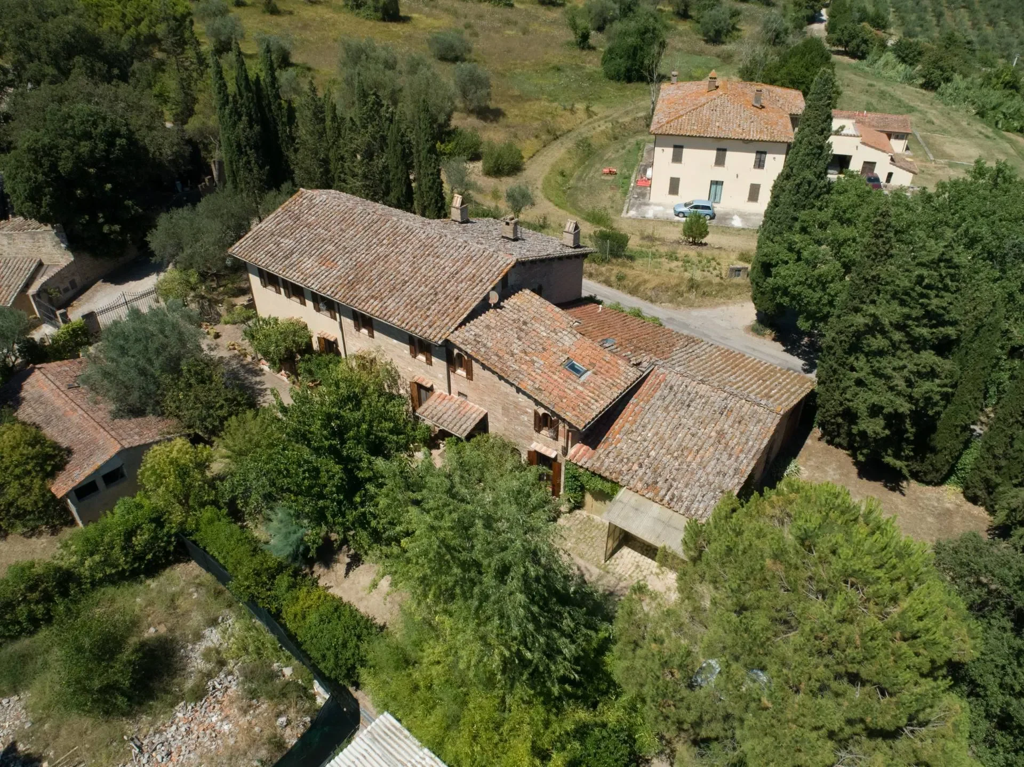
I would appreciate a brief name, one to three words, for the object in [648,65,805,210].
house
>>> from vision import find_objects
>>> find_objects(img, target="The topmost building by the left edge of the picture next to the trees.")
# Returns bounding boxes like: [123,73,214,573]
[0,211,90,330]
